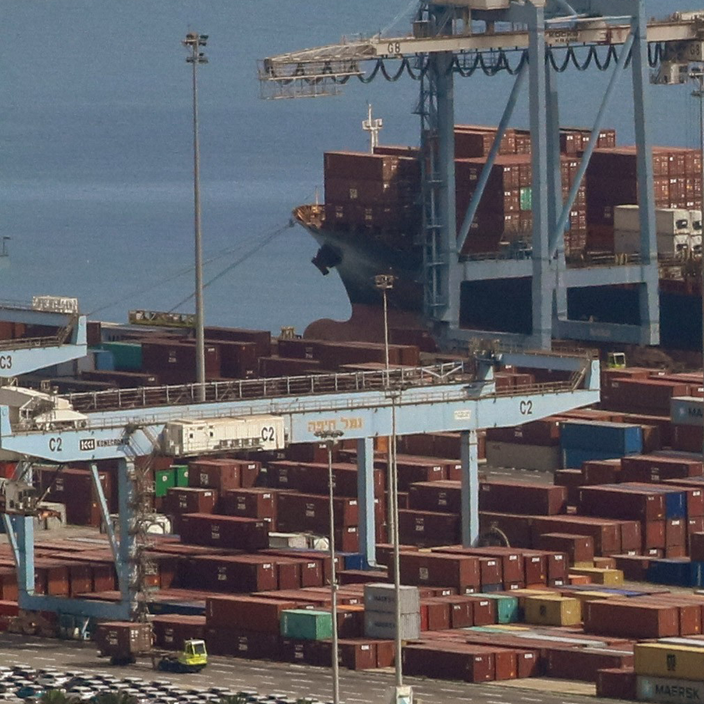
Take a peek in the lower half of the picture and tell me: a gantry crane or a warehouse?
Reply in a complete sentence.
Visible in the lower half of the picture is a gantry crane.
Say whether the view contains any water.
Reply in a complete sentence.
Yes, water can be seen from above here.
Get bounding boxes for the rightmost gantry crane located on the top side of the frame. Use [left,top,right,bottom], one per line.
[256,0,704,356]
